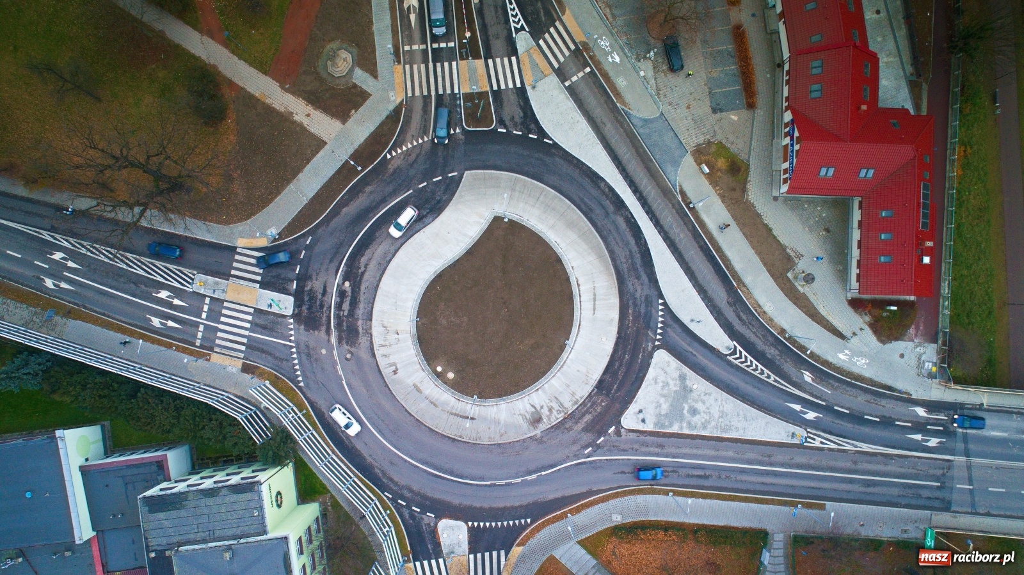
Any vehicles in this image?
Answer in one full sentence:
Yes, there's a vehicle down there.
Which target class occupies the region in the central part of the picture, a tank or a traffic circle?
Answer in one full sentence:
There is a traffic circle in the central part of the picture.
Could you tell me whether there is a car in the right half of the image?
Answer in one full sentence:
Yes, a car shows up in the right half of the image.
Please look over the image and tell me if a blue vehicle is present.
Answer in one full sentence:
Yes, you can see a blue vehicle in this photo.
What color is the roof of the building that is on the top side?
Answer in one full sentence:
From above, the roof of the building that is on the top side looks red.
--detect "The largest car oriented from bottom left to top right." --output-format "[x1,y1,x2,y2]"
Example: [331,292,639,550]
[388,204,417,237]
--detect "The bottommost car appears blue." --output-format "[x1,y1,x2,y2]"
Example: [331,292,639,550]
[635,468,665,484]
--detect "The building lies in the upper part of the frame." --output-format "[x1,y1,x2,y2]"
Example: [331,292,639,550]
[768,0,936,296]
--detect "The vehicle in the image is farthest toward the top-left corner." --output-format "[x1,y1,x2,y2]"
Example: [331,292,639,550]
[145,240,182,259]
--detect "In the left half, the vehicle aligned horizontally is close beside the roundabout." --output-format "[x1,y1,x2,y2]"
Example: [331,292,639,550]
[255,251,291,268]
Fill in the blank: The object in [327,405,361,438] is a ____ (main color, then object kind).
white car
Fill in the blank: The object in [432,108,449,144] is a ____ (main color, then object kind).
blue car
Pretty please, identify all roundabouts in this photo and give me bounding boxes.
[291,129,940,525]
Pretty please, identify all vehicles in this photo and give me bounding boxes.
[664,33,685,71]
[145,240,182,259]
[954,415,990,431]
[635,468,665,484]
[428,0,446,35]
[255,251,291,268]
[388,204,417,237]
[432,108,449,144]
[327,405,361,438]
